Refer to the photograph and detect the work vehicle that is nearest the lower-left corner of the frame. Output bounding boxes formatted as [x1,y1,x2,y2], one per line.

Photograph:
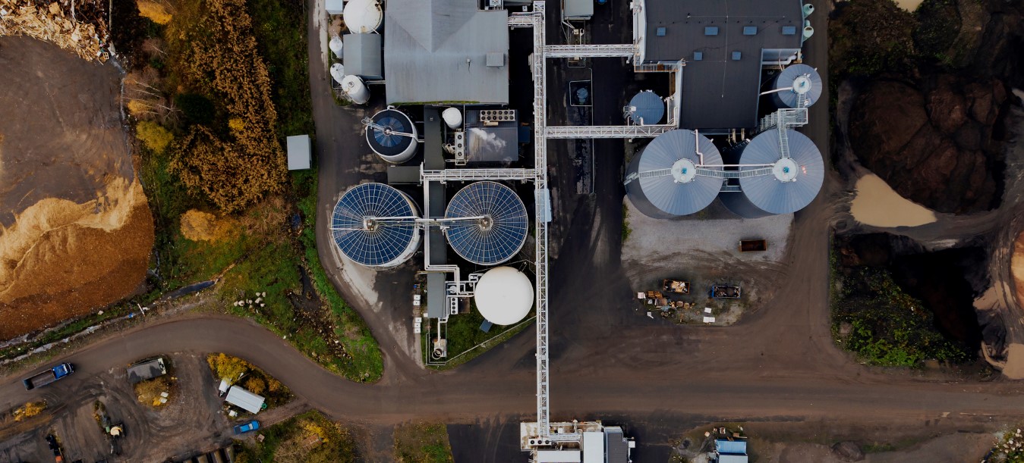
[44,435,65,463]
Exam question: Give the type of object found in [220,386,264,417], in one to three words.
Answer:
trailer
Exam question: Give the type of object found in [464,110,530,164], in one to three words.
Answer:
building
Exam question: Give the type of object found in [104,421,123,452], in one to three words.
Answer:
work vehicle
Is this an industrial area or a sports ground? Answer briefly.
industrial area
